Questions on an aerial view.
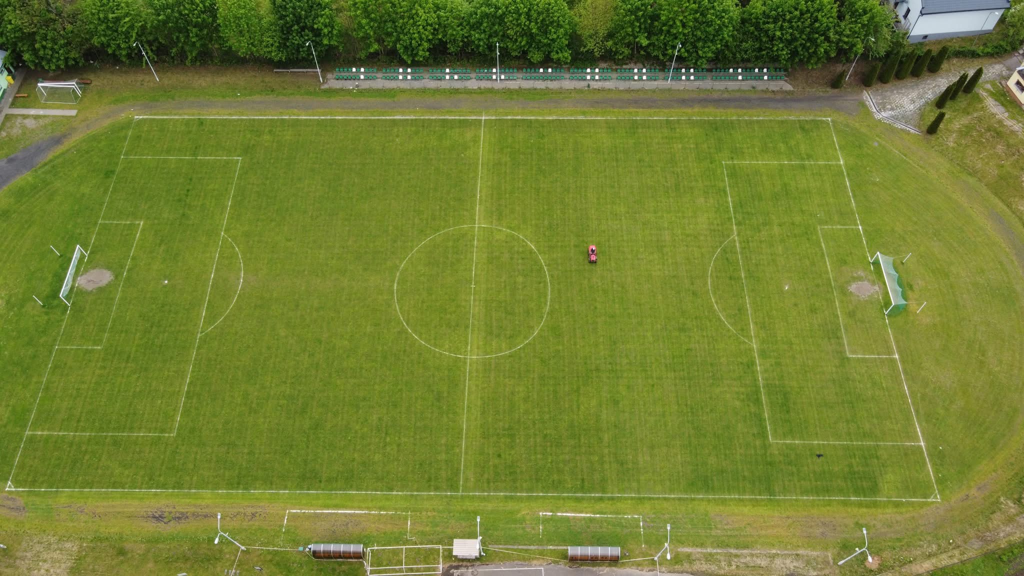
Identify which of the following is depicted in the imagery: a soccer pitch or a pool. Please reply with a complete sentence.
The one in the frame is a soccer pitch.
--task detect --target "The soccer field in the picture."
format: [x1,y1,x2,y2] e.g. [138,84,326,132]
[6,111,939,500]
